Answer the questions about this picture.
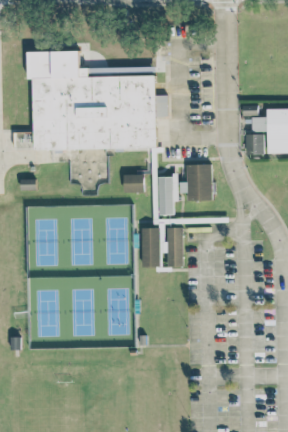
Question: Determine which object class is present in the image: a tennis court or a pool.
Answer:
tennis court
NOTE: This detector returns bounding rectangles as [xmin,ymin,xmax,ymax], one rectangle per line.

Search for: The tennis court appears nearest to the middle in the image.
[106,217,130,264]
